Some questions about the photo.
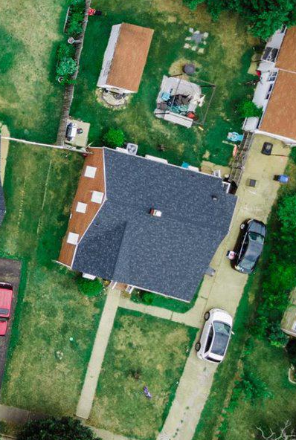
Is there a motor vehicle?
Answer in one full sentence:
Yes, this view includes a motor vehicle.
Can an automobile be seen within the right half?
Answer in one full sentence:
Yes, looking within the right half, one can make out an automobile.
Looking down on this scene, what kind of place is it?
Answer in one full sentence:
The area seen from above is a residential area.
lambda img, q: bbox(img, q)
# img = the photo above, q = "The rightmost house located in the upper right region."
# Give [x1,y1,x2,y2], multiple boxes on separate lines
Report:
[225,28,296,144]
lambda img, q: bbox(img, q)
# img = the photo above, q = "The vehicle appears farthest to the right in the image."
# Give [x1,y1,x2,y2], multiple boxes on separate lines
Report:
[224,216,266,276]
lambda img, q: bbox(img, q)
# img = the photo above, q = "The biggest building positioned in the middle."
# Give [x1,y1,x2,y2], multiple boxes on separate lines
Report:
[58,147,236,302]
